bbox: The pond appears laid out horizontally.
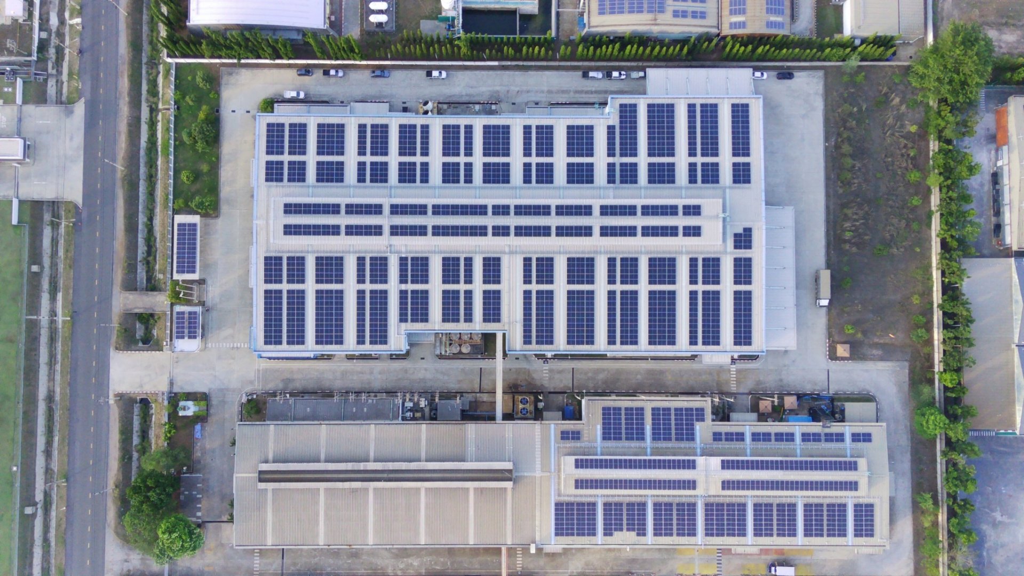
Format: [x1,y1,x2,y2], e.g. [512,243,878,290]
[455,0,557,41]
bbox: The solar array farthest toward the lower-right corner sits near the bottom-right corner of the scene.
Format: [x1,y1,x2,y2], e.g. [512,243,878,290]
[854,504,874,537]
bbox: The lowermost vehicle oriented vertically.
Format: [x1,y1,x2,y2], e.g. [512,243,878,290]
[816,269,831,307]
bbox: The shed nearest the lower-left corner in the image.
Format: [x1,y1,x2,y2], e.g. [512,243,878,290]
[179,473,205,522]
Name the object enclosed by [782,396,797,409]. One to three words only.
gazebo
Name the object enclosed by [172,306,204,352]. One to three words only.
building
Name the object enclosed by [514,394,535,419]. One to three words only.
cooling tower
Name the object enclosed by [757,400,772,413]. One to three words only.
gazebo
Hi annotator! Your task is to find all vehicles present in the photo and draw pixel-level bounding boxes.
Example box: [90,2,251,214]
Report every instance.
[816,269,831,307]
[284,90,304,98]
[427,71,446,79]
[753,71,766,80]
[606,70,626,79]
[323,68,343,77]
[372,69,389,78]
[767,562,796,576]
[630,70,646,79]
[583,70,602,79]
[297,67,312,76]
[989,174,1005,214]
[776,71,794,80]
